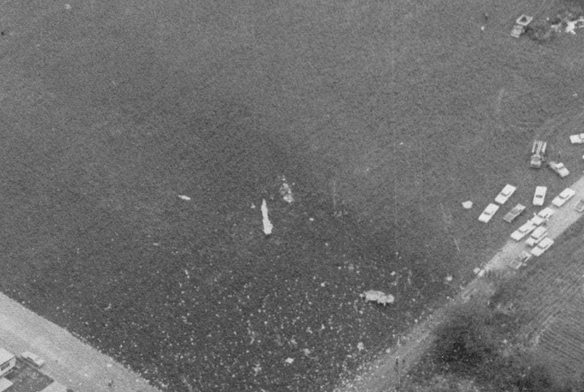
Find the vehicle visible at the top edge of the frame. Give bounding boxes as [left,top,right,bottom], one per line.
[512,14,531,36]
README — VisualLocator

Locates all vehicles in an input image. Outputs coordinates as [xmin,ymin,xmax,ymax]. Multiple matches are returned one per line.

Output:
[512,14,531,36]
[495,185,516,204]
[530,237,555,257]
[511,222,536,242]
[570,134,584,144]
[531,208,556,227]
[502,203,526,223]
[551,189,576,207]
[532,140,546,169]
[533,187,546,207]
[477,203,501,223]
[18,350,47,369]
[524,225,549,246]
[548,157,571,177]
